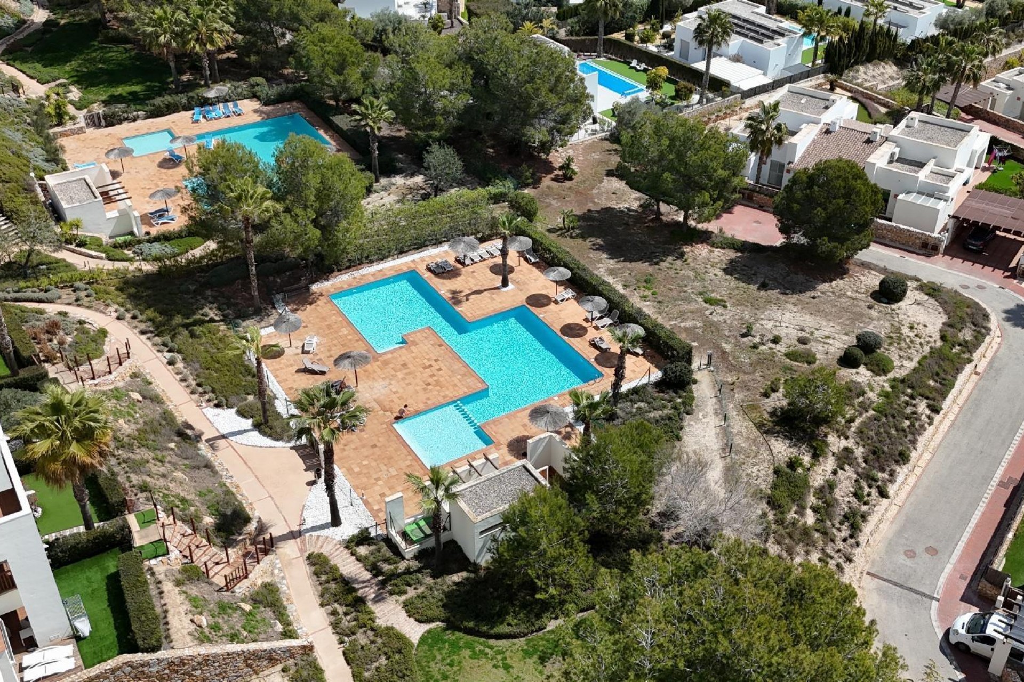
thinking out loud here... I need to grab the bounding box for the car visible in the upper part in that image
[967,225,1001,251]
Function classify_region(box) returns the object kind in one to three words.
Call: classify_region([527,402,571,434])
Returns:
umbrella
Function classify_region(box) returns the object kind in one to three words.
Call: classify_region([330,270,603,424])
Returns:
swimming pool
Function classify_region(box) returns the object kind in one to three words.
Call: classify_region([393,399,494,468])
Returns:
swimming pool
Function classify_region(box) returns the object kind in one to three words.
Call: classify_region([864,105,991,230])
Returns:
house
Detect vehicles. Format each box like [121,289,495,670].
[967,225,1001,251]
[954,615,1024,679]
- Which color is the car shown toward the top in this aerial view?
black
